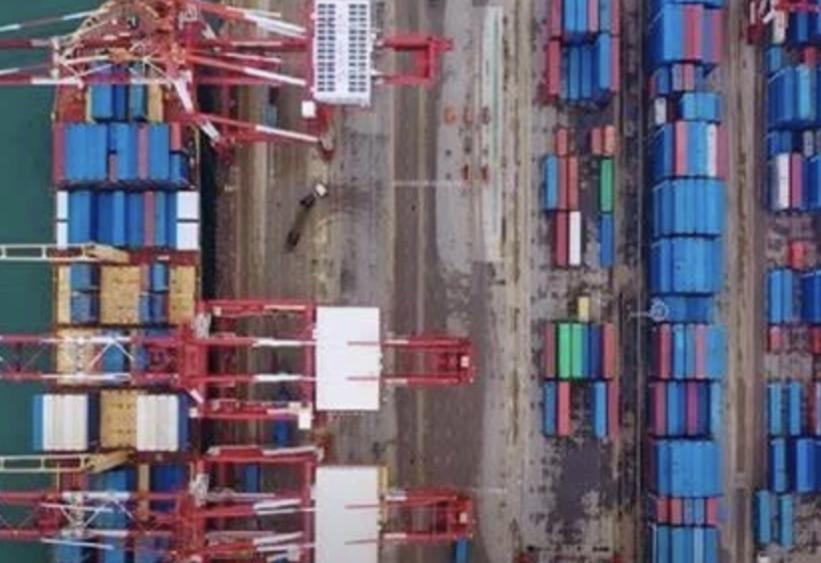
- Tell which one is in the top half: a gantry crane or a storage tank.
gantry crane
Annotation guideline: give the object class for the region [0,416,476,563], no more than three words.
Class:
container crane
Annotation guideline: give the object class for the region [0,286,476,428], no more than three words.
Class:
container crane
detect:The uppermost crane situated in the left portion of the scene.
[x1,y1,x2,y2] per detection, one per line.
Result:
[0,0,459,157]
